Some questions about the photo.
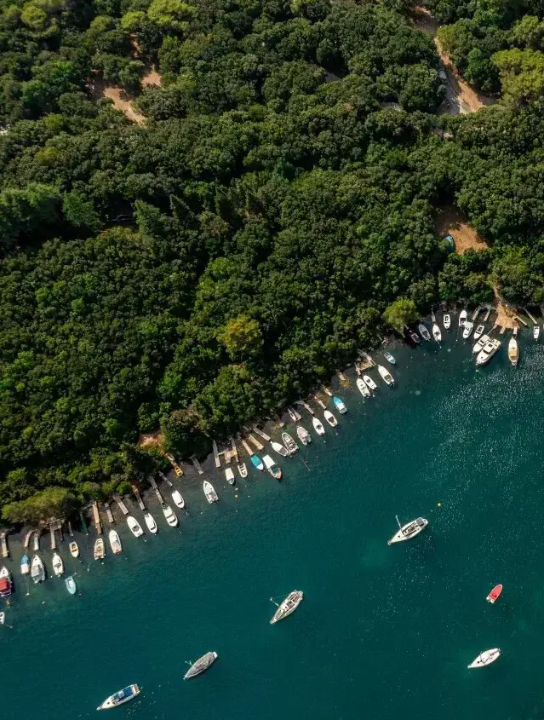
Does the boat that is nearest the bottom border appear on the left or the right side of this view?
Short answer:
left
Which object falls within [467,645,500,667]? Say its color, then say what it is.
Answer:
white boat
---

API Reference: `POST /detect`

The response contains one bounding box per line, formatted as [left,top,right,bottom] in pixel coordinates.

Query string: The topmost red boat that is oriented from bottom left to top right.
[487,584,501,604]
